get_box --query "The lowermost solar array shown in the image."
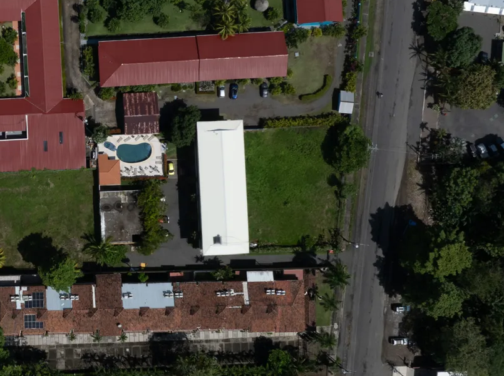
[25,315,43,329]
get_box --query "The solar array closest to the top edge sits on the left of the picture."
[25,292,43,308]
